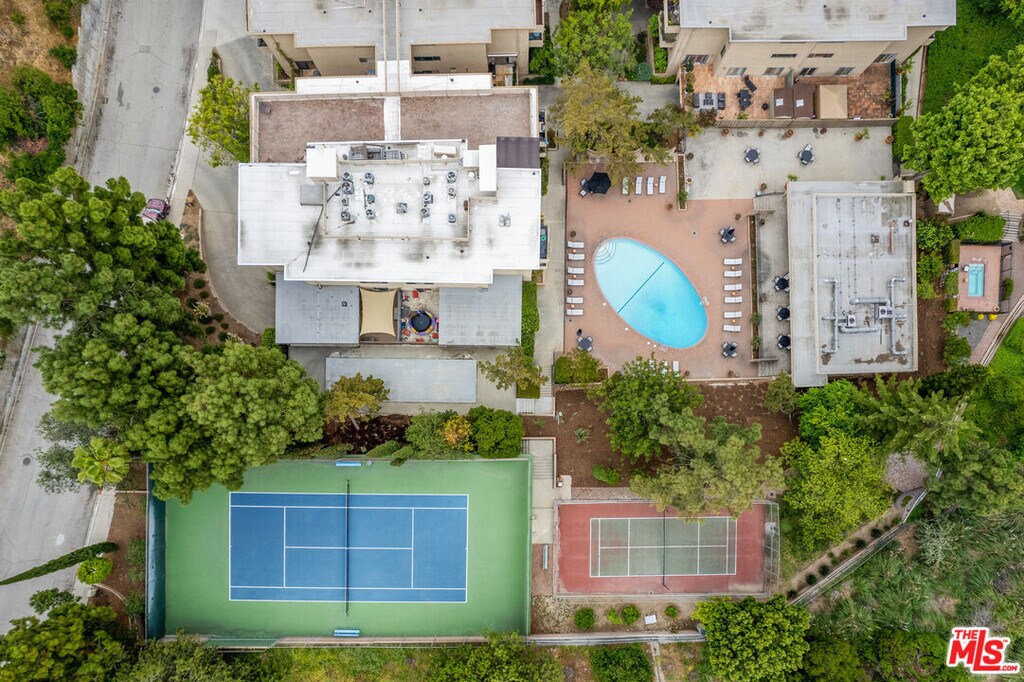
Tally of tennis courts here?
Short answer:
2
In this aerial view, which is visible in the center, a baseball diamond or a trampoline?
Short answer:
trampoline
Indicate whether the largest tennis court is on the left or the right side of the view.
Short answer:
left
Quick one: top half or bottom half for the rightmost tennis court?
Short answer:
bottom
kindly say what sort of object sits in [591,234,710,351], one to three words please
swimming pool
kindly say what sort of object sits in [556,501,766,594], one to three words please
tennis court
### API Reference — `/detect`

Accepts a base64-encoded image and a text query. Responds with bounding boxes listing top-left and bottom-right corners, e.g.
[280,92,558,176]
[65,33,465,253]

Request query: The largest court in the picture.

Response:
[164,457,531,637]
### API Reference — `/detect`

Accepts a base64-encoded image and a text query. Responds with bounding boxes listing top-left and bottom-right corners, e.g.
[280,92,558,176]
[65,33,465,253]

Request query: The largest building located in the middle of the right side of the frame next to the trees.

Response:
[785,181,918,387]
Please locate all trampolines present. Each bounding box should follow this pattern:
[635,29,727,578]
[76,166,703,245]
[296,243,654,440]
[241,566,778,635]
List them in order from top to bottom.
[408,310,432,334]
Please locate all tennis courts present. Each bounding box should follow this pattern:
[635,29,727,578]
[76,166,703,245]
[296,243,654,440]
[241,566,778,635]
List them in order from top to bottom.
[164,457,531,637]
[556,501,766,594]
